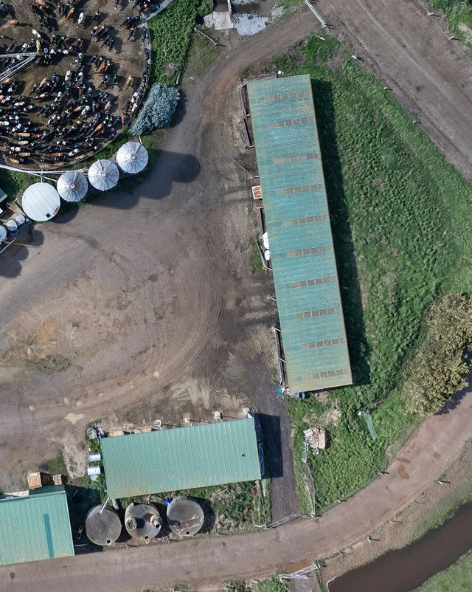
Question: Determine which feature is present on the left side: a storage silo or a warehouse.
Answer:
storage silo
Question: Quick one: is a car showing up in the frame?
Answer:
No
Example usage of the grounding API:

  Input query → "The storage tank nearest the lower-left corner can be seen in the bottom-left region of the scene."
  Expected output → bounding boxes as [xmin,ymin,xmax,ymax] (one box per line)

[85,502,122,543]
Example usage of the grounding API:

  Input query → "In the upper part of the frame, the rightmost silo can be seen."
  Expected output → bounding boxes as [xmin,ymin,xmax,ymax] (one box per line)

[113,140,148,177]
